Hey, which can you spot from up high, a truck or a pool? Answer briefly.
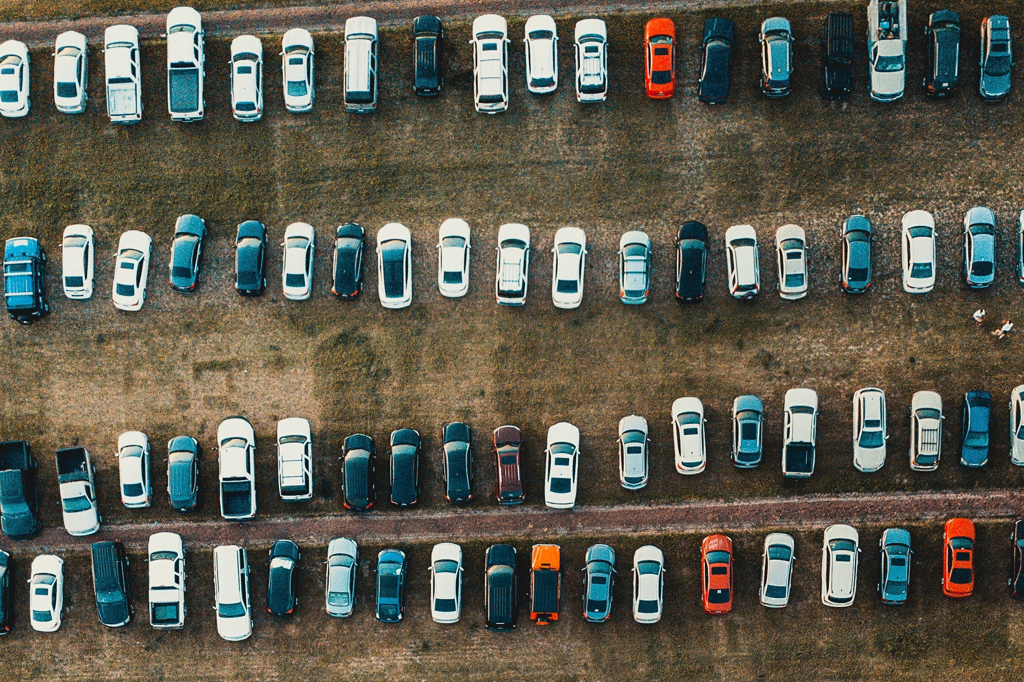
truck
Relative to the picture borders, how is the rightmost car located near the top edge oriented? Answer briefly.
up and down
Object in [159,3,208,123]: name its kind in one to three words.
truck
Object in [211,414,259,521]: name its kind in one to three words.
truck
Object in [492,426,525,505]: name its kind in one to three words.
car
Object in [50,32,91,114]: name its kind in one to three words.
car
